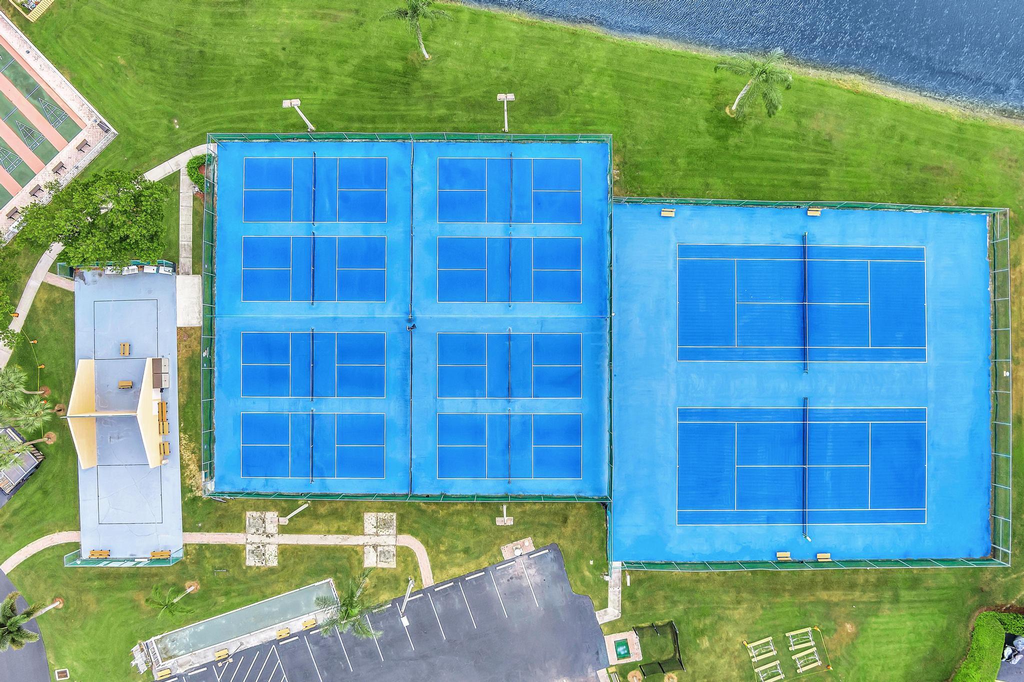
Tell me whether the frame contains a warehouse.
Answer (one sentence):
No, the frame has no warehouse in it.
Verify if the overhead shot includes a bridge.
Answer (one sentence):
No, no bridge is visible in the view.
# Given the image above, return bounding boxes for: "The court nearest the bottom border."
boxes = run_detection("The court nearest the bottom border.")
[151,579,340,666]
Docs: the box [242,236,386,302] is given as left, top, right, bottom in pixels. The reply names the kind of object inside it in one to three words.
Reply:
sports court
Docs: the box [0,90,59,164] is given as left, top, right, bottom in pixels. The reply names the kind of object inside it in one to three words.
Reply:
sports court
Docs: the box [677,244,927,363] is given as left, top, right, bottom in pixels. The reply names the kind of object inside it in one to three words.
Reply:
tennis court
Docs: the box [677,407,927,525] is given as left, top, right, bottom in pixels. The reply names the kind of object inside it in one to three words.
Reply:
tennis court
